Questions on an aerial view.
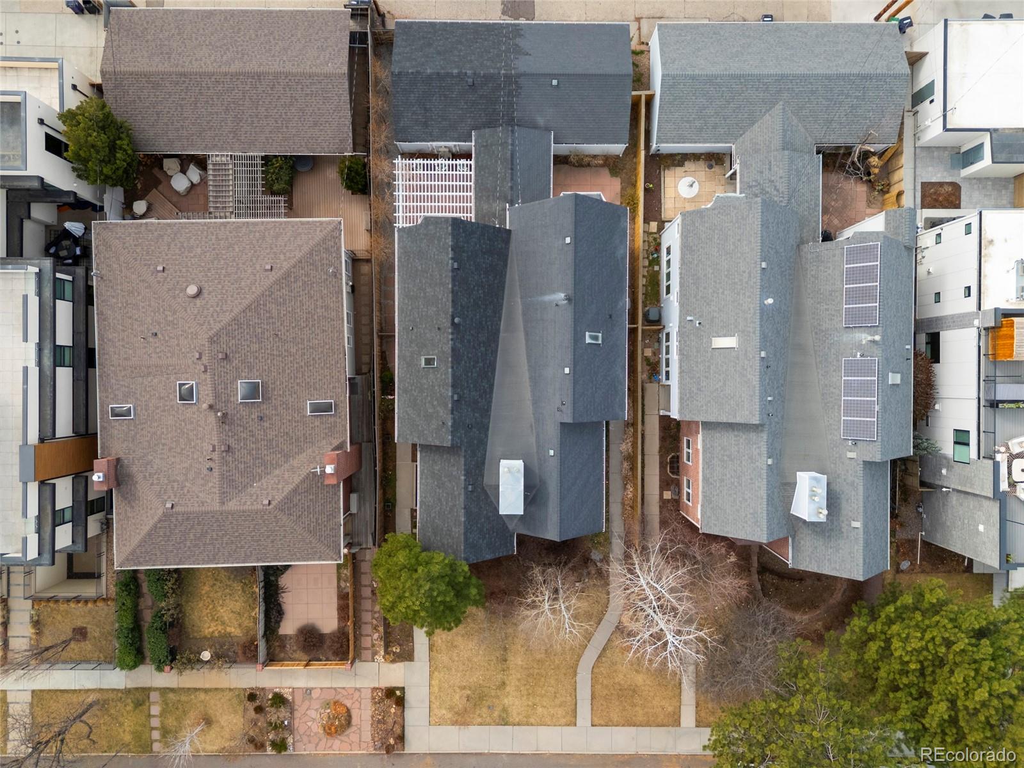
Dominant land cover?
buildings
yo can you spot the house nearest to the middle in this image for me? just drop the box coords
[394,125,630,562]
